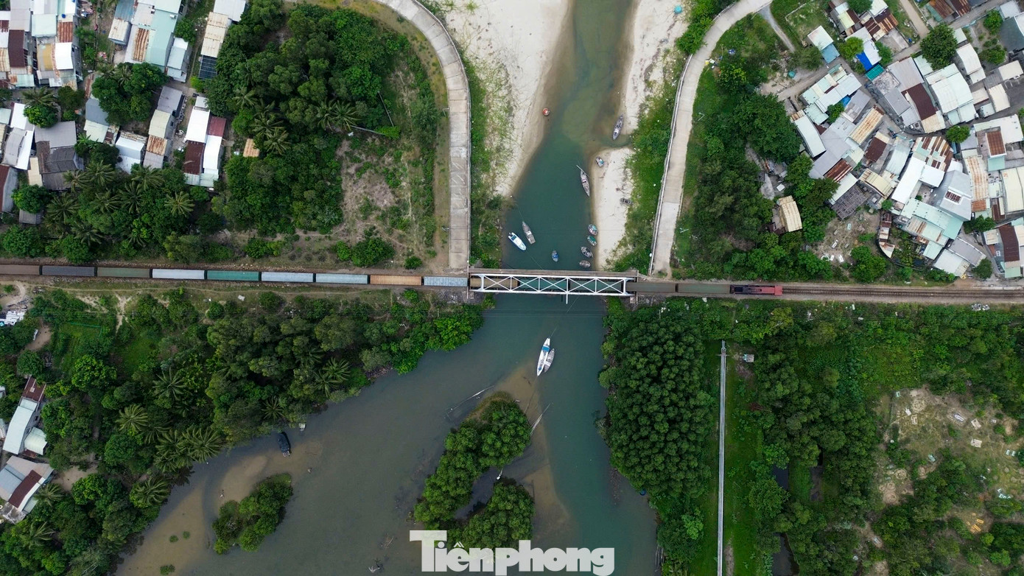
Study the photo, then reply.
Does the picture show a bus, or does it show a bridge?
bridge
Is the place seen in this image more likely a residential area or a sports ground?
residential area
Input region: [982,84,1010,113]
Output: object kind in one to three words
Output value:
house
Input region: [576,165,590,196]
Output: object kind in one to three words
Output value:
boat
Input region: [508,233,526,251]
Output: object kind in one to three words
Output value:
boat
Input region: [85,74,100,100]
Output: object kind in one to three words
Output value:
shed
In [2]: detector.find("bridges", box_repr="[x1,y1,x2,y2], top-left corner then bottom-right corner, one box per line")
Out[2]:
[460,266,646,304]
